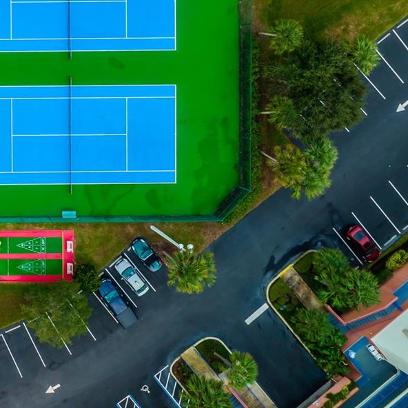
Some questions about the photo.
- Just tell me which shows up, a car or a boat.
car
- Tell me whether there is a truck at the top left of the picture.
No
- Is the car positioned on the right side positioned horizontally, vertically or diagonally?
diagonally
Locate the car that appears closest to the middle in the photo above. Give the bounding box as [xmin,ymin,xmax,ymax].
[129,234,165,276]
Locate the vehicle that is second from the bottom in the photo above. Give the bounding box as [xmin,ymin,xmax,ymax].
[113,255,153,299]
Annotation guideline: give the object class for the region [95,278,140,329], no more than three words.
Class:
truck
